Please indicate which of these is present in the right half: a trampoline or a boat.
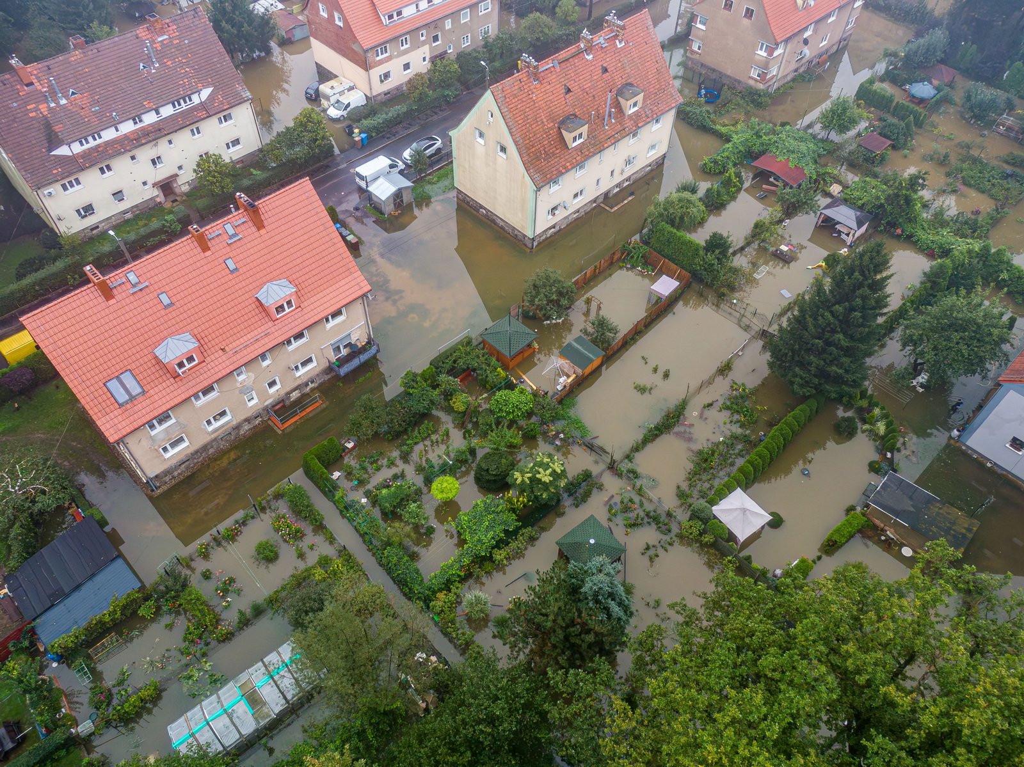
trampoline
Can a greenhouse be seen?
Yes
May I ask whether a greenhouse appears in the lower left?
Yes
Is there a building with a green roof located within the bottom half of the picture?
Yes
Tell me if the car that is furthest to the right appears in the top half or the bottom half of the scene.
top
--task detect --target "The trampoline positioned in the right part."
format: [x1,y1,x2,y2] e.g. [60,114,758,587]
[698,74,722,104]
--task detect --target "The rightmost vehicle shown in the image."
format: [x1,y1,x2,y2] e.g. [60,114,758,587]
[402,134,446,160]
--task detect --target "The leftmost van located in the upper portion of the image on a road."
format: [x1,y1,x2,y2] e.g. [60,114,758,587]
[354,155,404,188]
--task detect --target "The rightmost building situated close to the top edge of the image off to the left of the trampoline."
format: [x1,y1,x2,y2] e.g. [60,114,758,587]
[449,9,682,249]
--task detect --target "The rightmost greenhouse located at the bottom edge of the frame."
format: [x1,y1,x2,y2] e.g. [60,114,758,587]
[166,637,322,763]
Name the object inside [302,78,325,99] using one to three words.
car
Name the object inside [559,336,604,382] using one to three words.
shed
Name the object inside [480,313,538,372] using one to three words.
building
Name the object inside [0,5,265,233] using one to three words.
house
